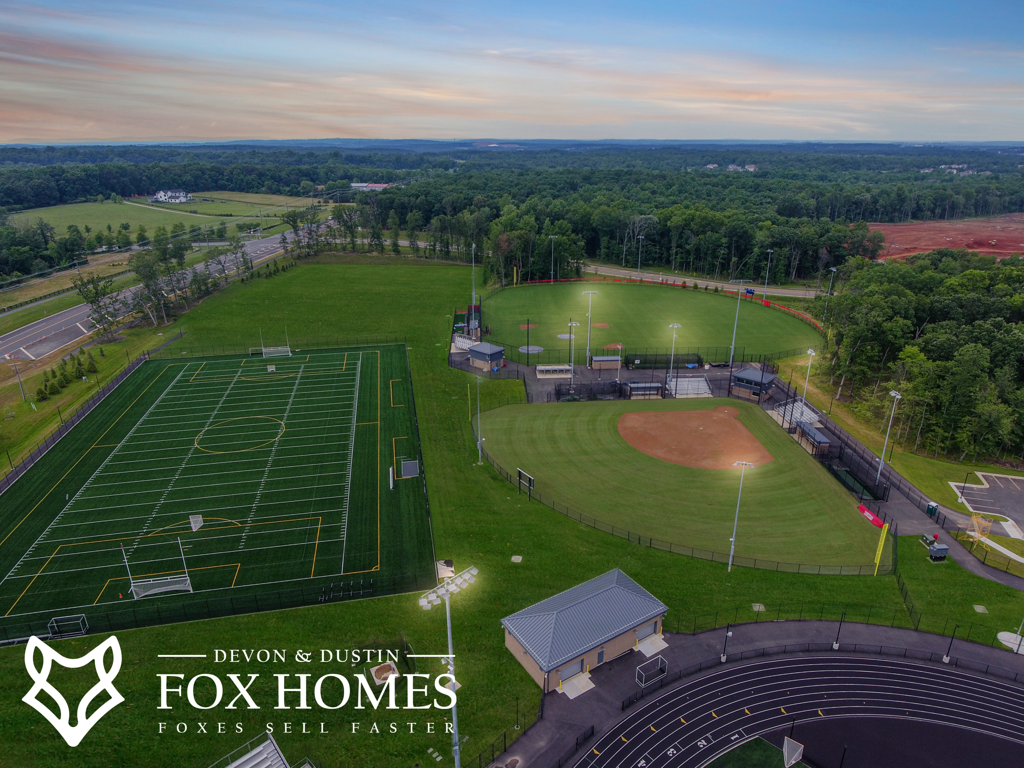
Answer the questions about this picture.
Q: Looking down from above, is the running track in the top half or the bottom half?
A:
bottom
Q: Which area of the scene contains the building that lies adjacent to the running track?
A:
bottom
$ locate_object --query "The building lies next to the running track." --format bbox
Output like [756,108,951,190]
[499,569,671,692]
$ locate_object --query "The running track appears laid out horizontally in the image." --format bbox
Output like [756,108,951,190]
[574,657,1024,768]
